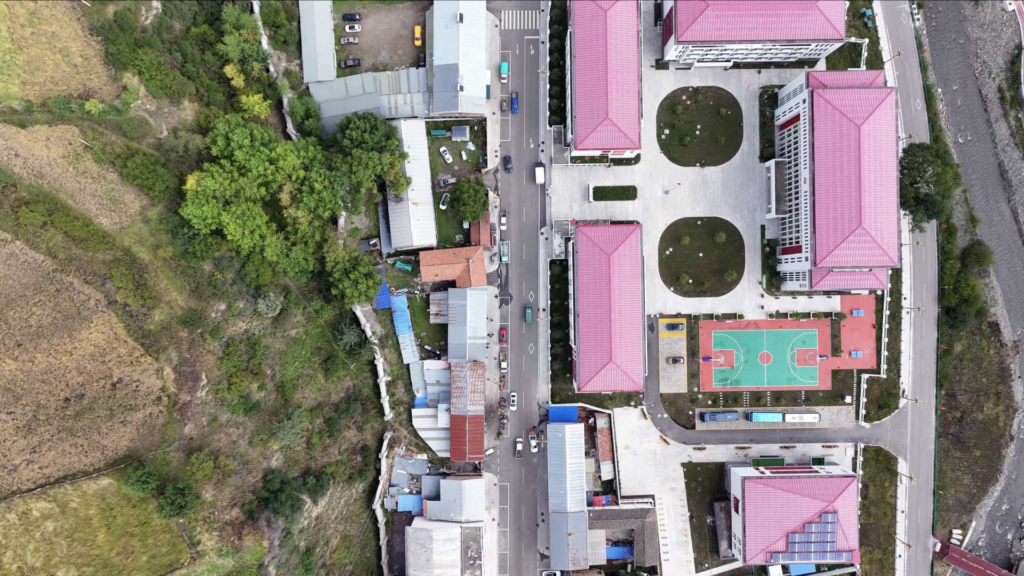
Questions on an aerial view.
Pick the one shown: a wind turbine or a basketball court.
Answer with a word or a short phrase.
basketball court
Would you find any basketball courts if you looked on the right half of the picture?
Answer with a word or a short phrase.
Yes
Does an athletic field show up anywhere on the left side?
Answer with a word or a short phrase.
No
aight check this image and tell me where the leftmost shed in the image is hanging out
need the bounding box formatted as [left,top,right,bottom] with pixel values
[301,0,339,85]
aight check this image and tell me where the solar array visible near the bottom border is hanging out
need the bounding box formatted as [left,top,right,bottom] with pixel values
[767,513,852,563]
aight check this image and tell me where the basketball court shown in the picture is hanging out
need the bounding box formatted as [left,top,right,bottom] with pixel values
[712,329,818,387]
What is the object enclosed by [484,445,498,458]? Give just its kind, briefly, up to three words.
vehicle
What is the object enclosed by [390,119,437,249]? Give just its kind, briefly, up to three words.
shed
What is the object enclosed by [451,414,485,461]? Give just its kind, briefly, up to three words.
house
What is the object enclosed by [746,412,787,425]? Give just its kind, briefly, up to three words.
vehicle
